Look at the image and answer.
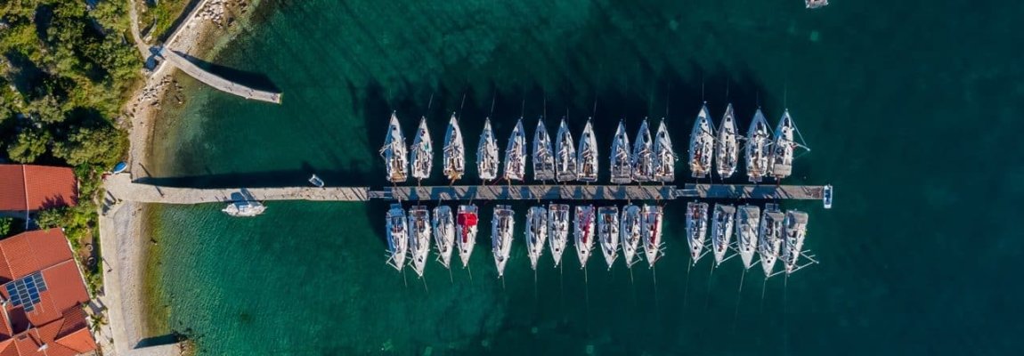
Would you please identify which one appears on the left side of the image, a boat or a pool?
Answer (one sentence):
Looking on the left side of the image, you will find a boat.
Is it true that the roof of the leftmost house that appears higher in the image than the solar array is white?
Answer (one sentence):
No, from above the roof of the leftmost house that appears higher in the image than the solar array looks red.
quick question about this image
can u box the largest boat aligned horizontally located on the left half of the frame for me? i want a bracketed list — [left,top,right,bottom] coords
[220,201,267,217]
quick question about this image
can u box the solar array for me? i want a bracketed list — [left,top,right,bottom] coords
[6,272,47,309]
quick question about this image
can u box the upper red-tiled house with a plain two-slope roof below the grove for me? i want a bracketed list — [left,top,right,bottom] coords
[0,164,81,211]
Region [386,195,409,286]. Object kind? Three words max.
boat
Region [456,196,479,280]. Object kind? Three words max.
boat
